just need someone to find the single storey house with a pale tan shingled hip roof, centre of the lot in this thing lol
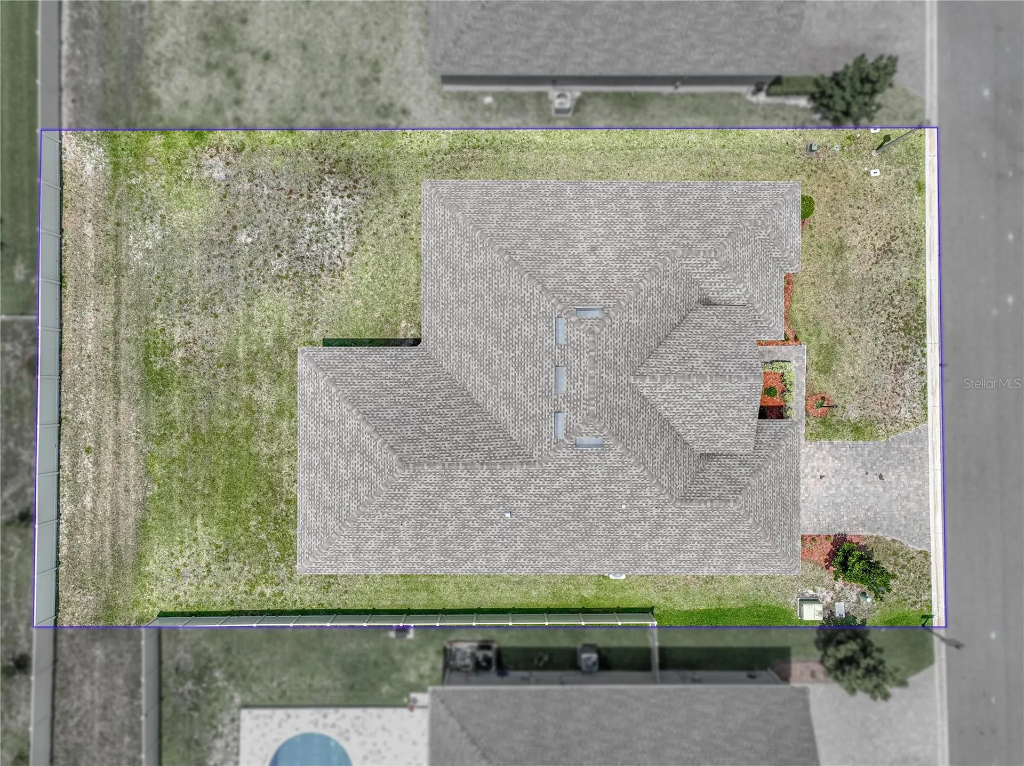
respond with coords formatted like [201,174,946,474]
[296,180,802,575]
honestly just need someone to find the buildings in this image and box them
[427,671,820,766]
[428,0,805,83]
[296,180,802,575]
